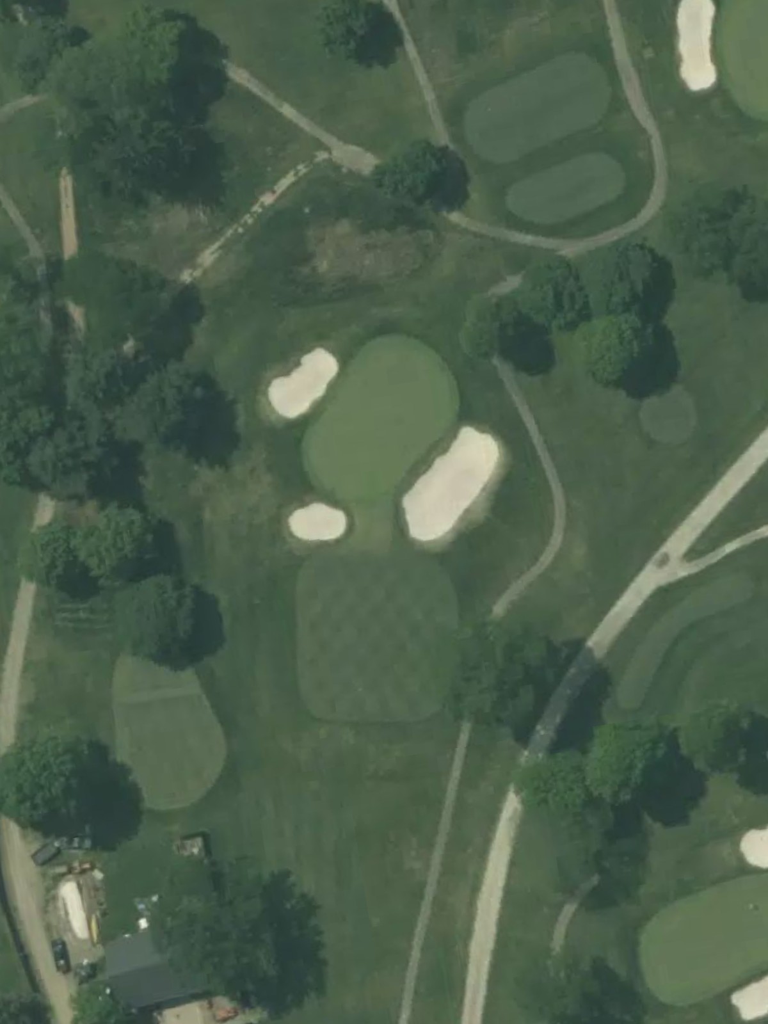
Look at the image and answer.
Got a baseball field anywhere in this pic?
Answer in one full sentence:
No, there's no baseball field here.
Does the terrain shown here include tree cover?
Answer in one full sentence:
Yes, tree cover shows up in the scene.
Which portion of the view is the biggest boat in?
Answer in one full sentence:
The biggest boat is in the bottom left part of the image.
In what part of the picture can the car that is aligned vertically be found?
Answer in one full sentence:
The car that is aligned vertically sits in the bottom left section of the image.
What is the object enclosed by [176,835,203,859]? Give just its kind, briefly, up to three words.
shed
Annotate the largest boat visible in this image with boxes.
[63,880,86,939]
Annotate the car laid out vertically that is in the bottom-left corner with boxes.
[51,939,71,974]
